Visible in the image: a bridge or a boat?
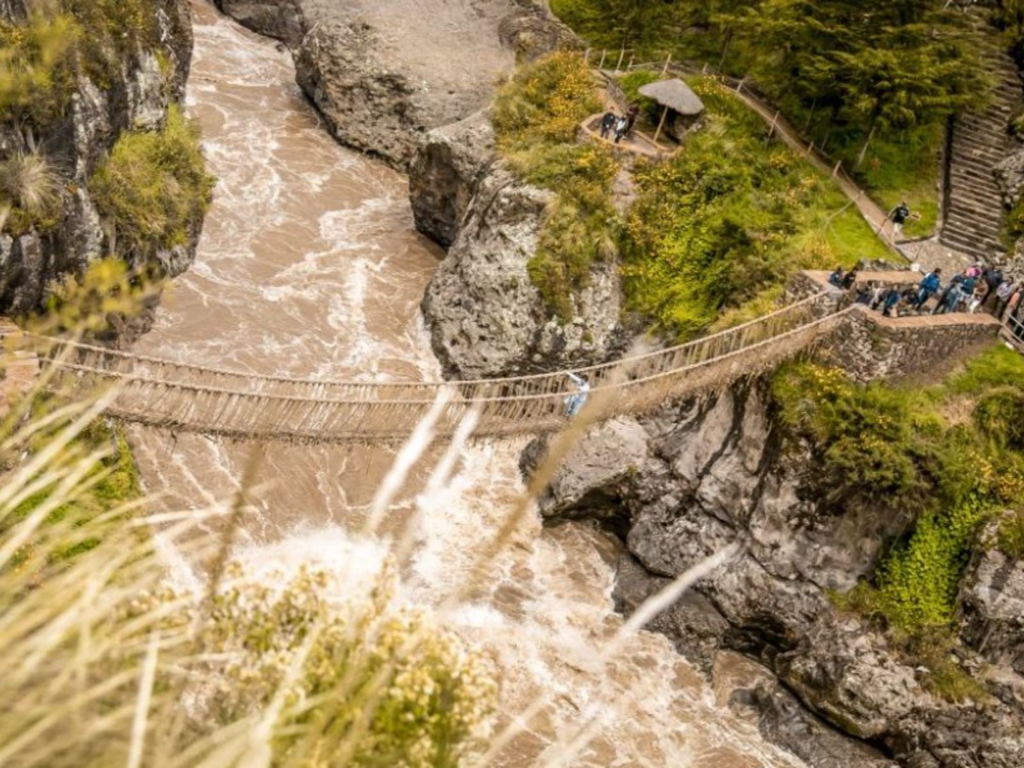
bridge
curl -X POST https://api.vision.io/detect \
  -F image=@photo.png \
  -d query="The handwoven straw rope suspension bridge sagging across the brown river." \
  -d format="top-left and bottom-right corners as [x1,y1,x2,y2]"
[21,286,863,463]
